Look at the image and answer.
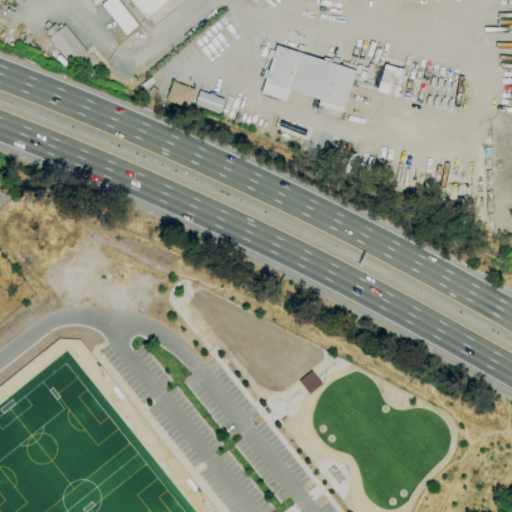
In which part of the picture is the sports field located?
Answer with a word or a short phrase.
bottom left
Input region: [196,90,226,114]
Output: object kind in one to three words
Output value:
building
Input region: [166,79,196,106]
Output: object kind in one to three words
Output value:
building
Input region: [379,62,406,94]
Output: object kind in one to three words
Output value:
shed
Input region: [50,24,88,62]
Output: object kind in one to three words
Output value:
shed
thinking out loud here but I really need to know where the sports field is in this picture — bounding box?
[0,352,196,512]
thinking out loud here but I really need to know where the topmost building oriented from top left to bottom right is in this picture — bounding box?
[102,0,140,36]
